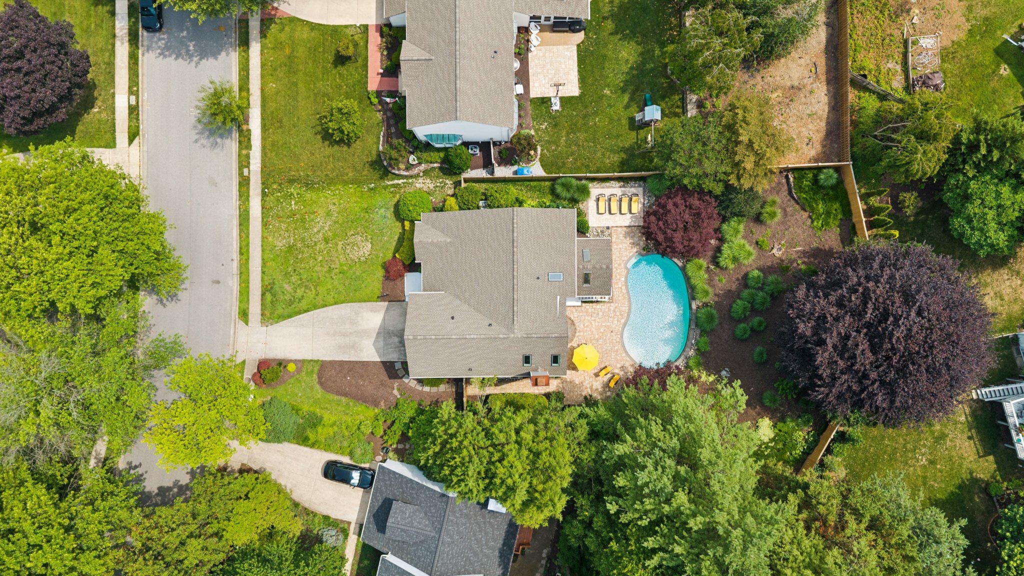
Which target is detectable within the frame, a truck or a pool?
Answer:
pool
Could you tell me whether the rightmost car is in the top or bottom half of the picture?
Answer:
bottom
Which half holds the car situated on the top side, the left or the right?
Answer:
left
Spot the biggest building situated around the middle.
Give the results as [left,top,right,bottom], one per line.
[405,208,613,387]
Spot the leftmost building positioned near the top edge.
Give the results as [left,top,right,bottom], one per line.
[382,0,592,149]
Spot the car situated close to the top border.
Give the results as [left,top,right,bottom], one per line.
[137,0,166,28]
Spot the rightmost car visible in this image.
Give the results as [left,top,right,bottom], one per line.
[321,456,376,488]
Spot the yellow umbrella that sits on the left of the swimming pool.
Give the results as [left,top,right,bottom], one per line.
[572,344,599,371]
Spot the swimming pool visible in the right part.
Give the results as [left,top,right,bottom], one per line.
[619,249,696,372]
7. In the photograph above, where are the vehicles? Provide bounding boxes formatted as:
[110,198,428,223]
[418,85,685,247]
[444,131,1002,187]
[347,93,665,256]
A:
[321,456,376,488]
[137,0,166,28]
